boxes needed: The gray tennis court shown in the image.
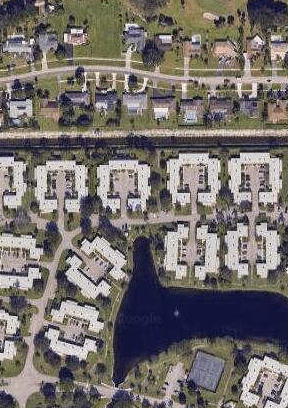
[186,351,226,391]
